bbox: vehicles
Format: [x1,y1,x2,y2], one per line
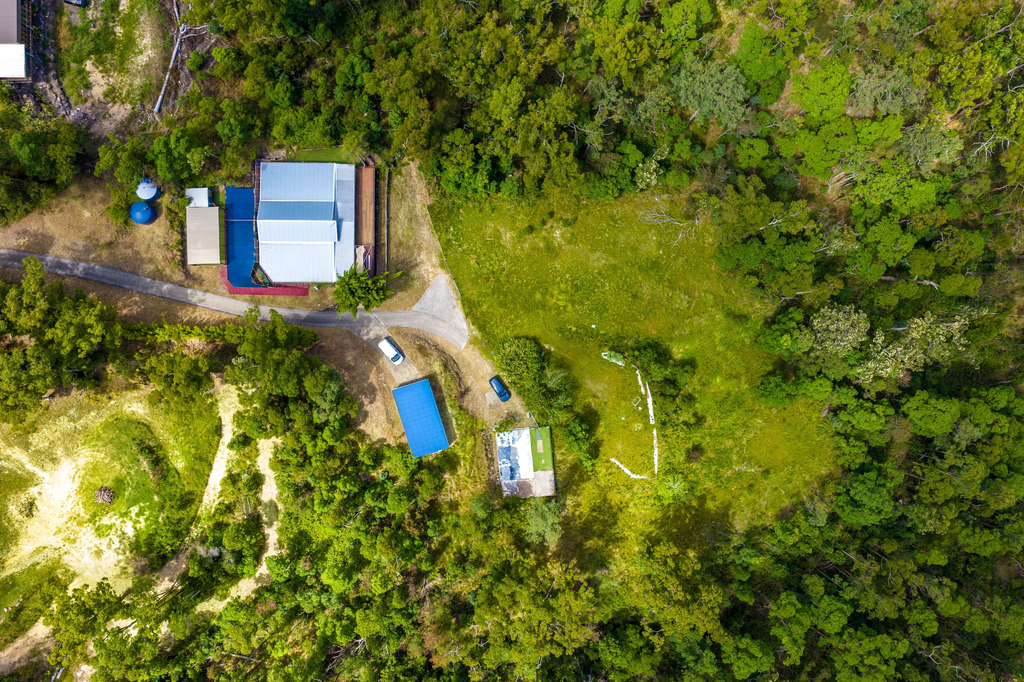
[487,375,511,403]
[378,337,405,367]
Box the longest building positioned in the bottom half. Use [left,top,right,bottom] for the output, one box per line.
[392,379,450,459]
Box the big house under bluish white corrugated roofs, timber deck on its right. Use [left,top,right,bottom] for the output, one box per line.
[255,160,376,283]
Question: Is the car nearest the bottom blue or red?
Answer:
blue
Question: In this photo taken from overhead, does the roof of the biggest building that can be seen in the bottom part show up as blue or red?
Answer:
blue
